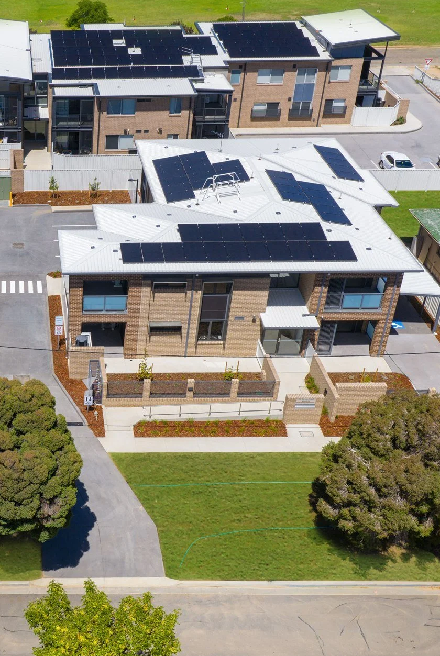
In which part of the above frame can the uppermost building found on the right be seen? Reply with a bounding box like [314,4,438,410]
[196,7,405,126]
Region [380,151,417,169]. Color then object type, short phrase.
white car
